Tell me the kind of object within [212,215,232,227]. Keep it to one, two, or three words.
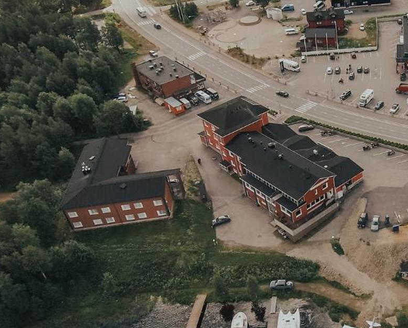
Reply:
vehicle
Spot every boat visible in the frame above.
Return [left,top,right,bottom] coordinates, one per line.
[231,308,248,328]
[279,309,300,328]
